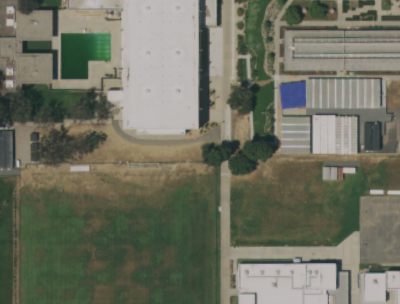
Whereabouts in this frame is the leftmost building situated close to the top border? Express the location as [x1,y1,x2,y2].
[0,0,59,88]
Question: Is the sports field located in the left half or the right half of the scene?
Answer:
left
